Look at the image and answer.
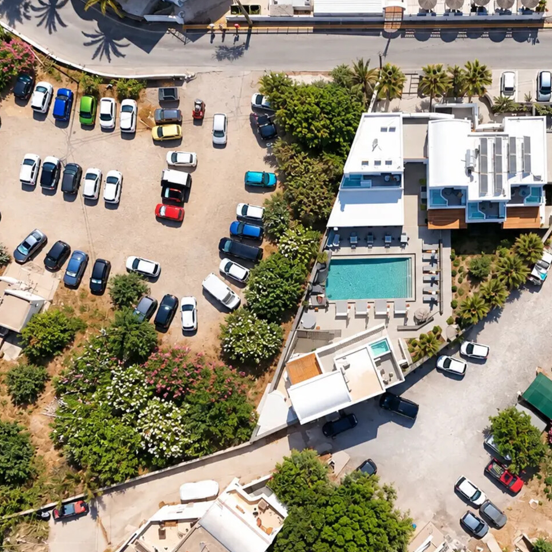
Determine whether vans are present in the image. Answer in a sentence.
Yes, I can see a van in this picture.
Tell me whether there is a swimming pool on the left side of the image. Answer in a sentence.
No, looking on the left side of the image, there is no swimming pool.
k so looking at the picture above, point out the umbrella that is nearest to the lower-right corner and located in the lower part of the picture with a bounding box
[443,327,457,341]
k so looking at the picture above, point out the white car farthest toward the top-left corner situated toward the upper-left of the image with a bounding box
[30,81,54,113]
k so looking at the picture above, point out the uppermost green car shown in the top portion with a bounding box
[78,95,97,126]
